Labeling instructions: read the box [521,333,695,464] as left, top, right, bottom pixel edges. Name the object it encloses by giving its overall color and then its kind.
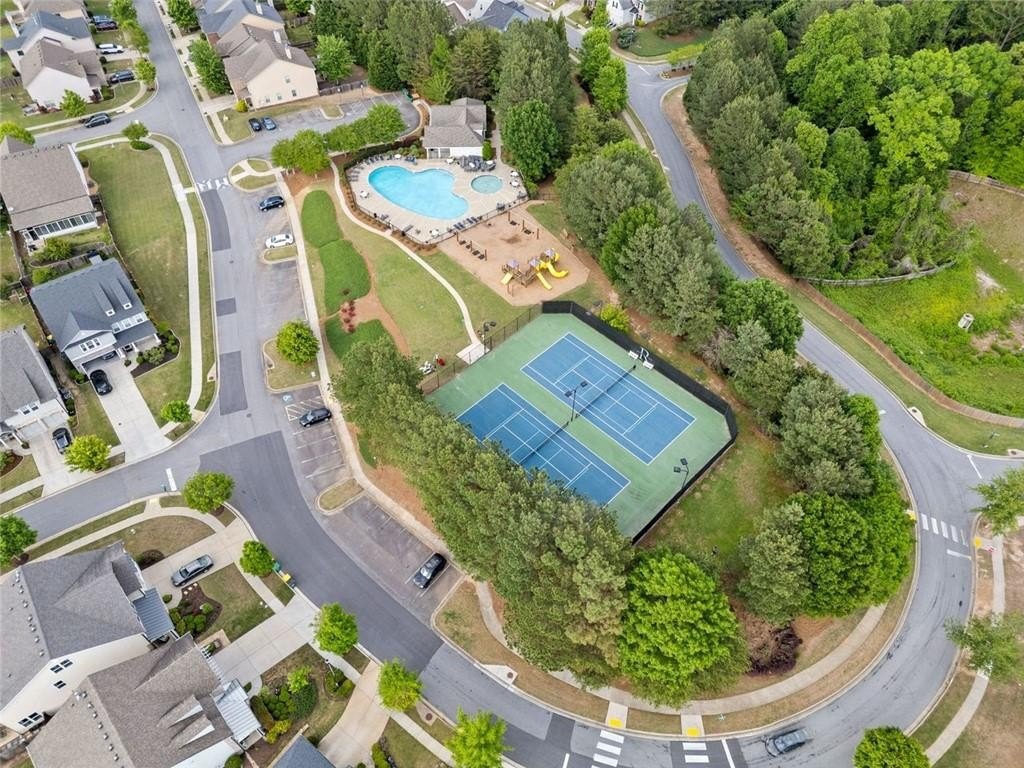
blue tennis court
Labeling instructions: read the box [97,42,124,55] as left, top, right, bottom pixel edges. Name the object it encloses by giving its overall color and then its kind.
white vehicle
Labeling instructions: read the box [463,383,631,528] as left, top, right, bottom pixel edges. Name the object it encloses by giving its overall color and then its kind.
blue tennis court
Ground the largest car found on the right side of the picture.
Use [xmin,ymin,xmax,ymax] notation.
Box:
[761,722,817,758]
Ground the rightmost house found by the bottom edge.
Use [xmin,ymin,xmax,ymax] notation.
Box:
[248,729,335,768]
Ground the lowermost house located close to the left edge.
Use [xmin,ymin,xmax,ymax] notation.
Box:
[19,636,267,768]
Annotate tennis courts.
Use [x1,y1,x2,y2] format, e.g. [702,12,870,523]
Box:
[521,333,695,464]
[463,383,631,528]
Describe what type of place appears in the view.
residential area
